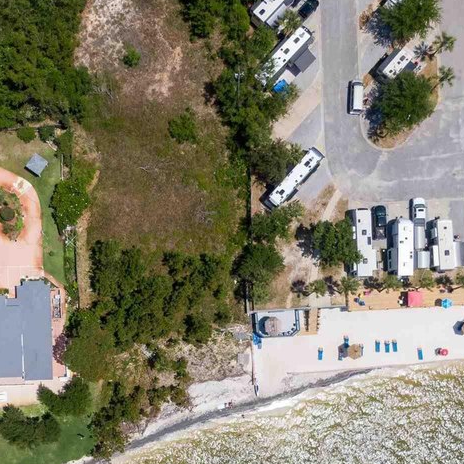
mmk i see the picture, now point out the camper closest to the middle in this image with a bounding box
[262,149,325,213]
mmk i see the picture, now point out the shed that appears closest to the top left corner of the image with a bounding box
[23,151,46,176]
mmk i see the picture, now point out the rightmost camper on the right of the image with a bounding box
[426,216,463,274]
